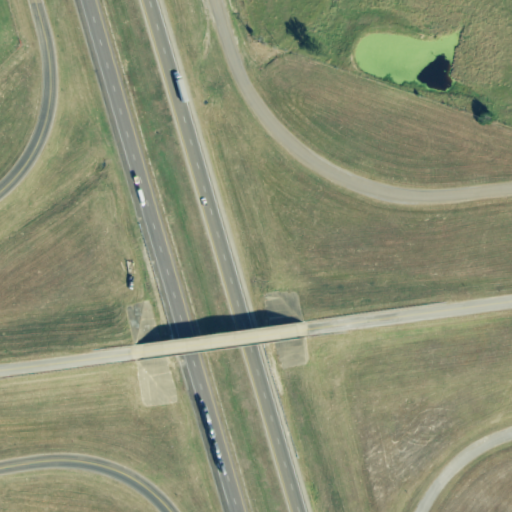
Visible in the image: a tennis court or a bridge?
bridge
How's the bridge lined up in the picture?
from side to side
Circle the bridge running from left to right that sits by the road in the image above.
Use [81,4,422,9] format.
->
[132,322,310,361]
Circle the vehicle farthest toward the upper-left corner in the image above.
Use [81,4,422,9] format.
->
[172,70,188,103]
